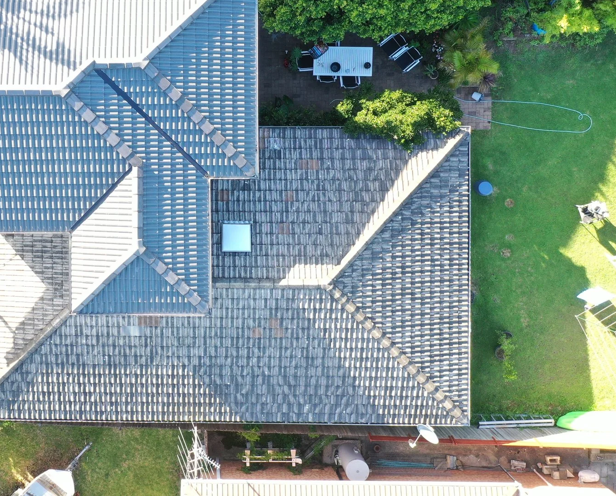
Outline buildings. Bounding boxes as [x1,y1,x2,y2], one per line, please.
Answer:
[178,457,616,496]
[0,0,473,429]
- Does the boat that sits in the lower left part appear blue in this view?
No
